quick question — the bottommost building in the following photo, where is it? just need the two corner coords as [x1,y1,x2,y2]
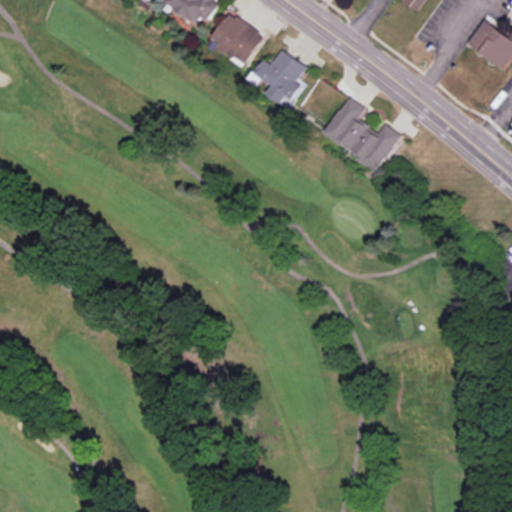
[324,97,401,170]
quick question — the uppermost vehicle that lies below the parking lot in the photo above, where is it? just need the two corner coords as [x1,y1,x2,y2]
[491,89,509,110]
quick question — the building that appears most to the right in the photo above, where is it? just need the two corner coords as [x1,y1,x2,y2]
[468,17,512,73]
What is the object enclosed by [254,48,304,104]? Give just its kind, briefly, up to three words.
house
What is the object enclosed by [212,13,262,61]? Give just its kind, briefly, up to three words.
house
